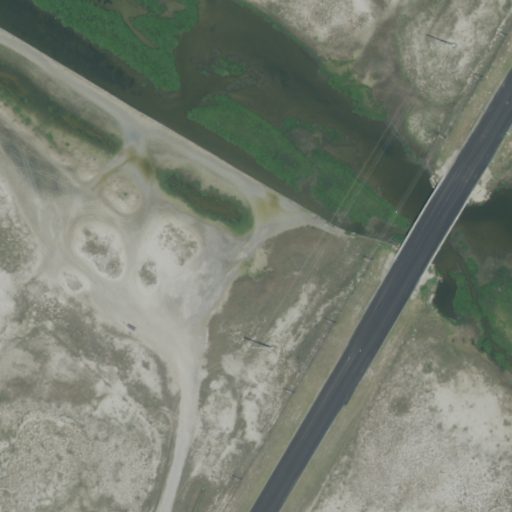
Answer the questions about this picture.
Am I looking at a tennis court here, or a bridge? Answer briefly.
bridge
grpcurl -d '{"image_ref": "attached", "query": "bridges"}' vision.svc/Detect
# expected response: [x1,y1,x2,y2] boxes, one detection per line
[396,170,477,277]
